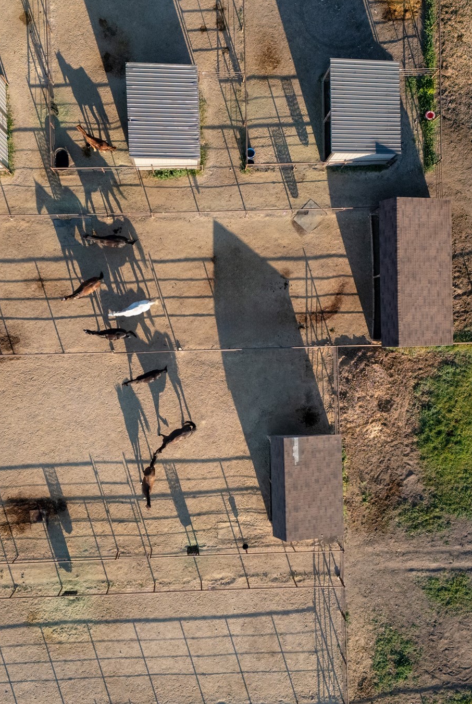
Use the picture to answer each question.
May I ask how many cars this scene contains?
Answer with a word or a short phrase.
0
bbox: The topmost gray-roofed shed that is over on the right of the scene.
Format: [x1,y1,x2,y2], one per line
[323,57,401,162]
